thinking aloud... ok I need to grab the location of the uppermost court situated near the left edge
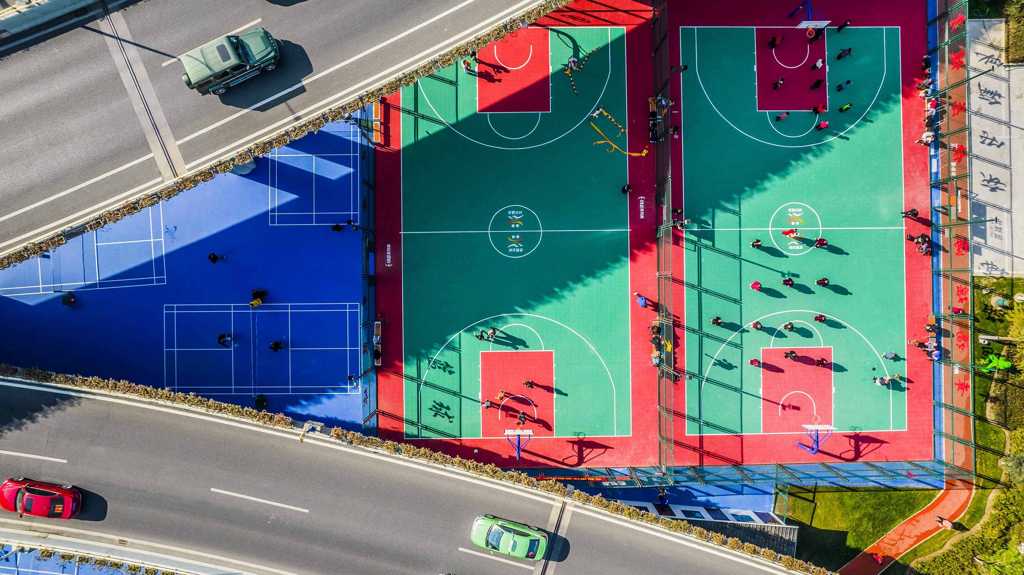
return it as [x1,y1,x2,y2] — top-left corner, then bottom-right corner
[0,206,166,297]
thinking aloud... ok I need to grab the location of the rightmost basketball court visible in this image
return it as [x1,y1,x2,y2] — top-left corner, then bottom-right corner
[655,0,934,466]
